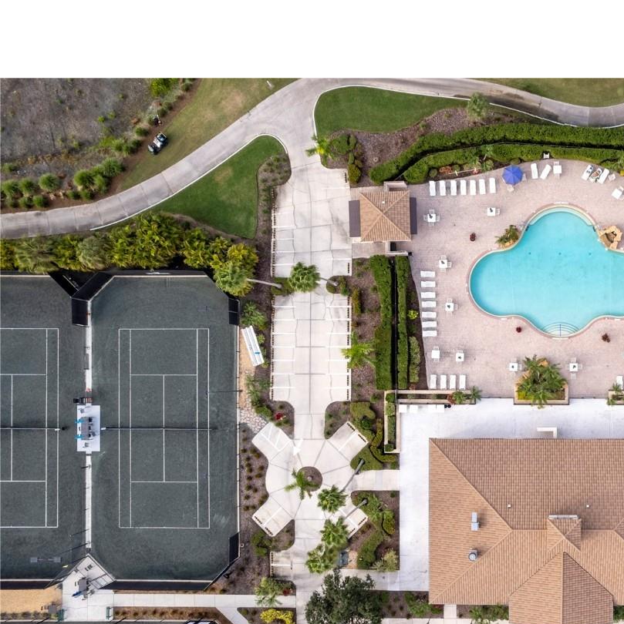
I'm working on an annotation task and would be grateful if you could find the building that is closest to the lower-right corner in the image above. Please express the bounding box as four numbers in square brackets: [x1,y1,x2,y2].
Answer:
[428,425,624,624]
